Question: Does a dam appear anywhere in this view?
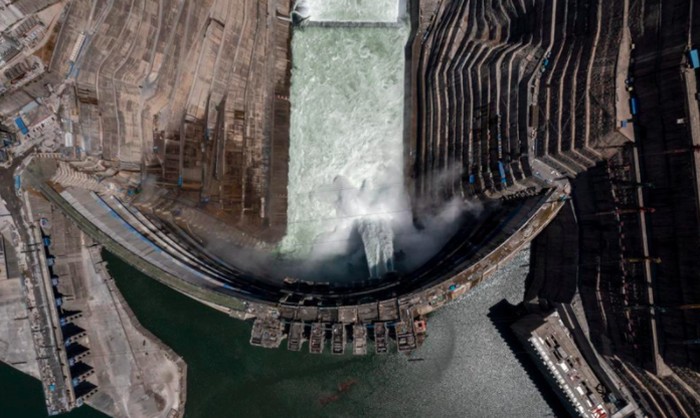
Yes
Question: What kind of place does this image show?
port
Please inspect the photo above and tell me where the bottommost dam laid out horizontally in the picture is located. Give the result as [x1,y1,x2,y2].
[40,179,569,354]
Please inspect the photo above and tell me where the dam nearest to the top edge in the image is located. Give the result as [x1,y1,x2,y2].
[283,0,409,34]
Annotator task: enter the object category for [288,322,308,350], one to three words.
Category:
pier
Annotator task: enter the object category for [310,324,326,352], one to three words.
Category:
pier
